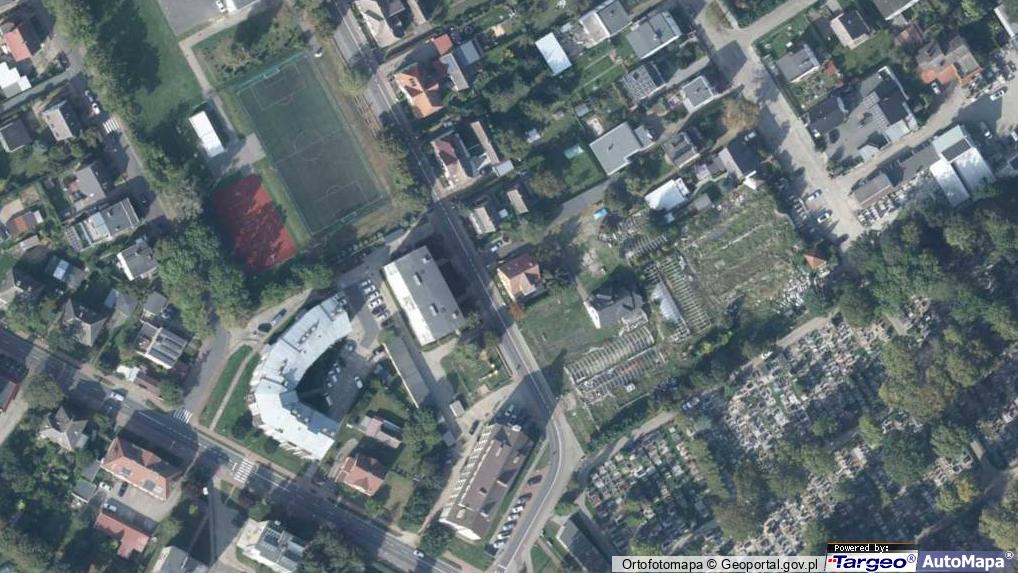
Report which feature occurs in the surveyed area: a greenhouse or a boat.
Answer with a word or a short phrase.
greenhouse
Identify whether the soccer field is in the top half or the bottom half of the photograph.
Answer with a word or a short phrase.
top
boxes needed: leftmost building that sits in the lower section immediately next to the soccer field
[244,293,352,469]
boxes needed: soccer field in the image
[238,56,389,233]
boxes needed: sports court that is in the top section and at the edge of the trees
[214,174,297,272]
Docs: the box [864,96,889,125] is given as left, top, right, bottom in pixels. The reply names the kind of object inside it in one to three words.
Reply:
solar panel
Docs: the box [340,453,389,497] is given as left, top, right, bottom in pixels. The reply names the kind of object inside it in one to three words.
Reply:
house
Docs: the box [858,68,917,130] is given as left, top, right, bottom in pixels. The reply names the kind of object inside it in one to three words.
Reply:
building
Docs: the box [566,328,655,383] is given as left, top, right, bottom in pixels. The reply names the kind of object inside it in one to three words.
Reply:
greenhouse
